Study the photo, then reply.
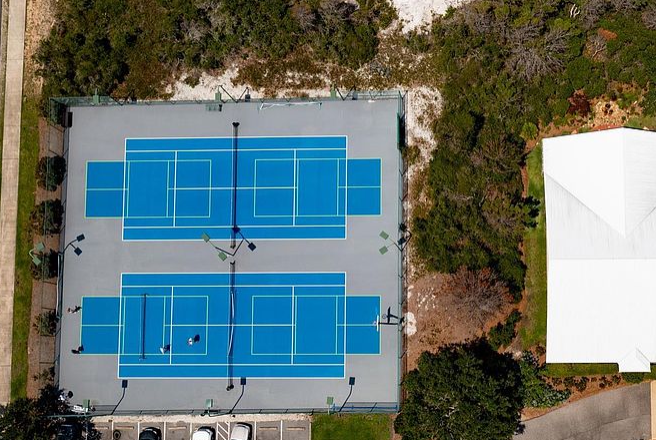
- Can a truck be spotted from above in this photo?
No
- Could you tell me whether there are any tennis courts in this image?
Yes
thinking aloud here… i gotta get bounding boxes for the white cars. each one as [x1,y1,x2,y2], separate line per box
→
[231,424,251,440]
[193,427,214,440]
